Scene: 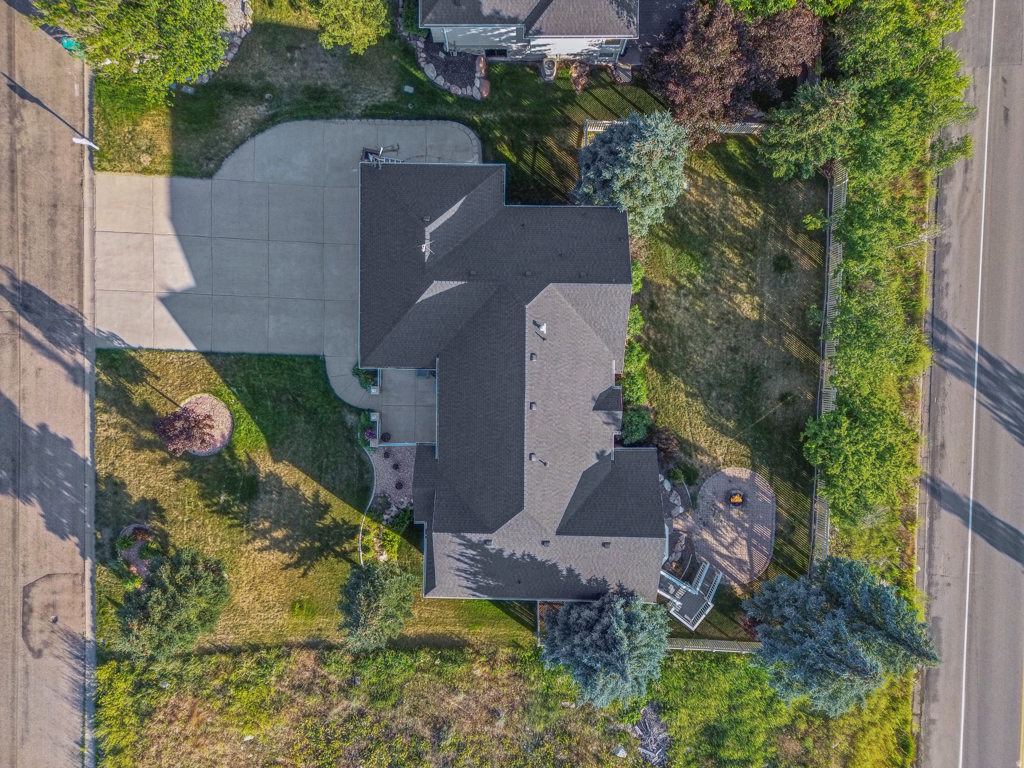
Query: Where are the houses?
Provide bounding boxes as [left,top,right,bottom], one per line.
[418,0,691,71]
[357,161,667,605]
